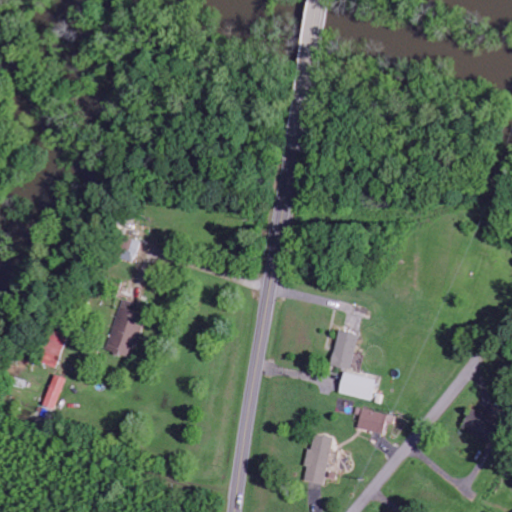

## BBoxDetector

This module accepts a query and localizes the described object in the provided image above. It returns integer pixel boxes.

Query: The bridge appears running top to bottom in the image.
[300,0,328,47]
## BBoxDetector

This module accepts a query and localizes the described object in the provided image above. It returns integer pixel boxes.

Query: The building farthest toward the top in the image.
[120,238,140,264]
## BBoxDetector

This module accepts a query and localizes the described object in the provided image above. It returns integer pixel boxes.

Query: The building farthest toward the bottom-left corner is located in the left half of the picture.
[40,374,66,412]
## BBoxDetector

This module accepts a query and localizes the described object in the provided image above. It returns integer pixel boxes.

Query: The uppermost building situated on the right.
[332,330,358,372]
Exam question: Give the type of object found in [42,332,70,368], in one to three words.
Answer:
barn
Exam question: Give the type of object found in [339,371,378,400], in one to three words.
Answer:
building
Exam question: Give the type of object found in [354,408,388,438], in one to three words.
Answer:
house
